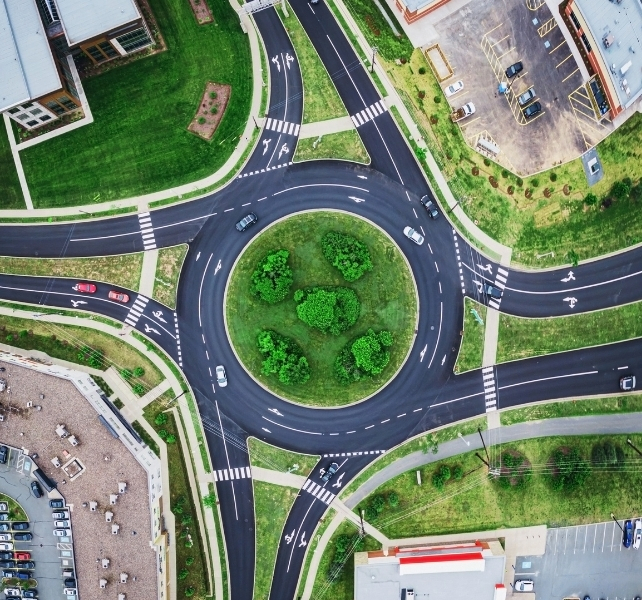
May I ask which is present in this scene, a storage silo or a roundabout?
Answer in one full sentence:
This aerial view contains a roundabout.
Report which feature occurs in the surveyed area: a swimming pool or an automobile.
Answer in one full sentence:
It is an automobile that can be seen here.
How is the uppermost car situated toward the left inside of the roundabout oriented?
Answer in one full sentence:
The uppermost car situated toward the left inside of the roundabout is laid out on a diagonal.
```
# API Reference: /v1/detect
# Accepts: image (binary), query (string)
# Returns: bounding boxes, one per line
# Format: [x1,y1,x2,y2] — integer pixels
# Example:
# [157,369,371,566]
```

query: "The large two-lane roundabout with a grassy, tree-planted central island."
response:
[180,163,463,454]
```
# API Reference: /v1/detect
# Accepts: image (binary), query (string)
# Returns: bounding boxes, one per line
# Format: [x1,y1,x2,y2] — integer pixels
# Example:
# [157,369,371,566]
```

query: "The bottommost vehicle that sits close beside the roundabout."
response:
[321,460,340,483]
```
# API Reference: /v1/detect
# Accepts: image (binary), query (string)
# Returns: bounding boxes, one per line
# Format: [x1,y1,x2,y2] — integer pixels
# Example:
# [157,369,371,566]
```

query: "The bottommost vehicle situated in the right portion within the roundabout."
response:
[403,225,425,245]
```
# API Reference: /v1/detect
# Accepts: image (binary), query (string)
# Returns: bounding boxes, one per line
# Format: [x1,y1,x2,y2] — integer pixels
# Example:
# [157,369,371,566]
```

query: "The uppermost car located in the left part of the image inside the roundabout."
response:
[235,212,258,232]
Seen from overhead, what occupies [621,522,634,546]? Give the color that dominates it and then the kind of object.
blue vehicle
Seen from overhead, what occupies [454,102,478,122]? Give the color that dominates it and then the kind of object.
white vehicle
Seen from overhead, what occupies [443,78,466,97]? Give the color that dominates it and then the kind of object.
white car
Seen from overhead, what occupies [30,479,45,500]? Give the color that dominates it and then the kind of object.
black car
